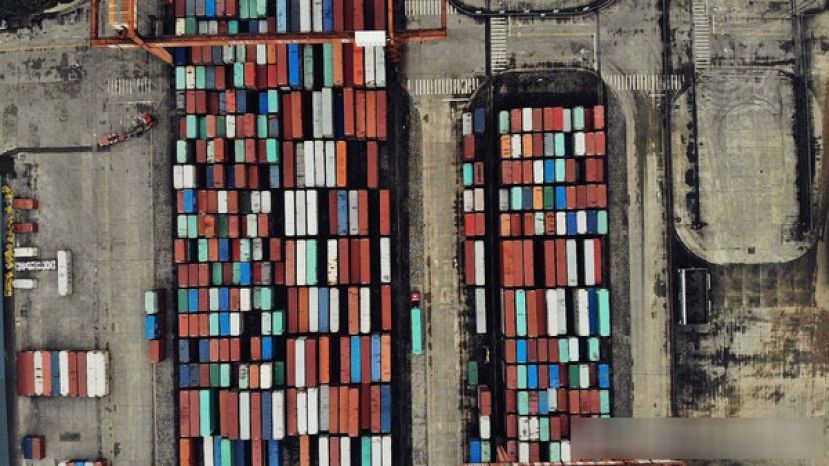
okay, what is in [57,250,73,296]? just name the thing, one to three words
vehicle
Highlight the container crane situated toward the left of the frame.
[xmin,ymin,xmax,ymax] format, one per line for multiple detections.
[91,0,445,74]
